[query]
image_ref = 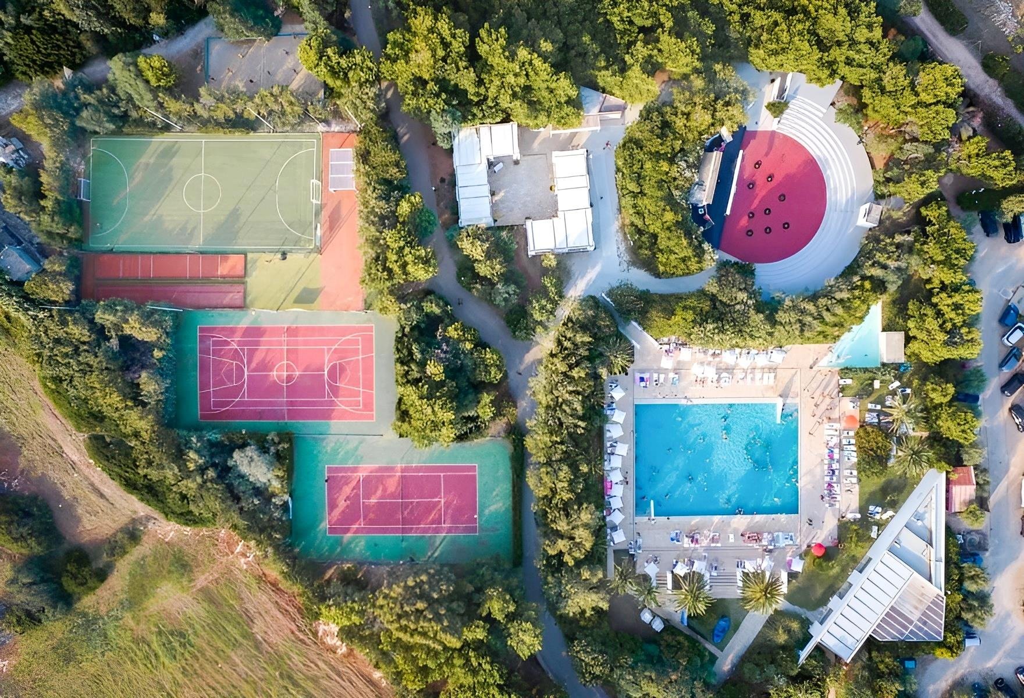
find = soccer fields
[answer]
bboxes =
[83,132,320,252]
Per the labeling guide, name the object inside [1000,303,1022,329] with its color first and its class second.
blue car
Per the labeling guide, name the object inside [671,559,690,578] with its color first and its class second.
white umbrella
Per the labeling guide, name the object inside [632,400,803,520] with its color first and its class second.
blue swimming pool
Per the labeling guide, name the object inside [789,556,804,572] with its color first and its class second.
white umbrella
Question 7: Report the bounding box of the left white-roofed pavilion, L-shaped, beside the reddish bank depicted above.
[454,123,520,228]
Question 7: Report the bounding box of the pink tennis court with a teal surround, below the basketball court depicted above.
[291,435,514,563]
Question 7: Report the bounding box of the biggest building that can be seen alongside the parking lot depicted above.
[797,467,945,665]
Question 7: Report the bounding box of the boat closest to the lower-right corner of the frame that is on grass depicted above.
[715,618,730,644]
